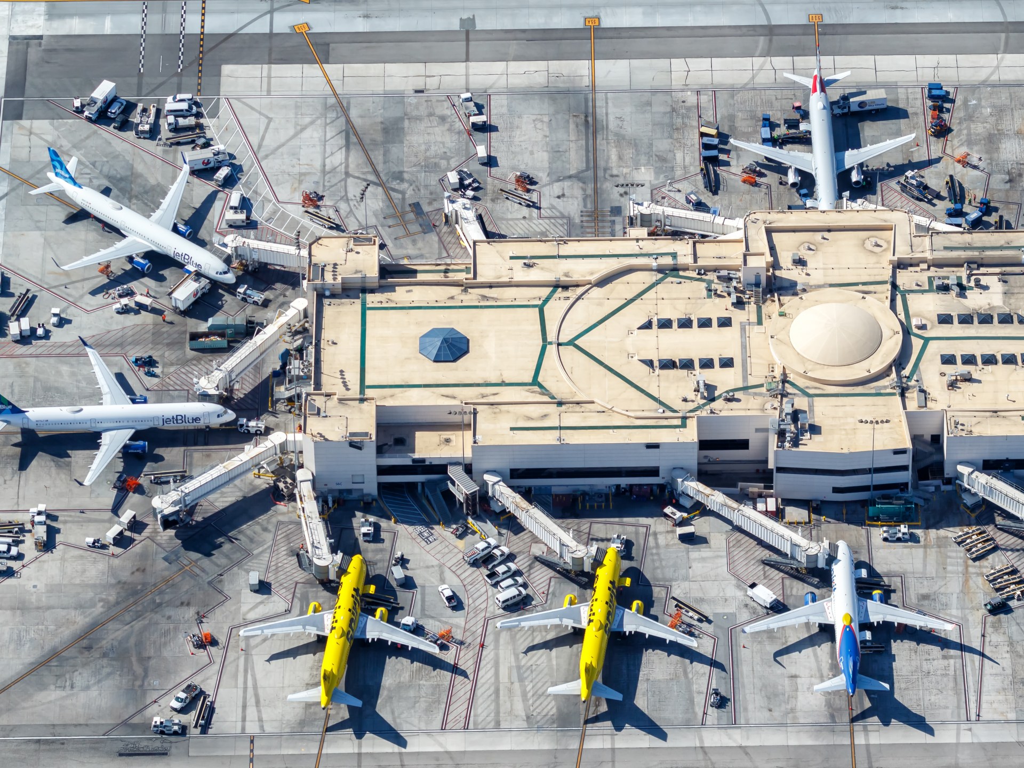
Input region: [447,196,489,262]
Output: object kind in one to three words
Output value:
jet bridge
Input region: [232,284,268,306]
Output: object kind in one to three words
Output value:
work vehicle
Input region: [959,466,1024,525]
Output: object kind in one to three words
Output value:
jet bridge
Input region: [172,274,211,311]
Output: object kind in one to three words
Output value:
truck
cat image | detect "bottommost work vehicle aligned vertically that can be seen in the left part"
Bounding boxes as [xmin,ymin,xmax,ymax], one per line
[194,692,209,730]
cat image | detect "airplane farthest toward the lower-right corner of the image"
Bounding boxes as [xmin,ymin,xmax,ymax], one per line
[741,542,956,698]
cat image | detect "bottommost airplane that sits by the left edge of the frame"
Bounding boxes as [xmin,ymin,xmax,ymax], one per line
[0,335,237,485]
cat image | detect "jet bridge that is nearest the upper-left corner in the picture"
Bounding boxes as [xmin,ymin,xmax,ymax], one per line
[210,235,309,281]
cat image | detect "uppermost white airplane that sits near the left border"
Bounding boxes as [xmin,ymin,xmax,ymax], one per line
[29,150,236,284]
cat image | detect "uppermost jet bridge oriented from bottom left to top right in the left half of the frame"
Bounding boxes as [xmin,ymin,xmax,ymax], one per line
[202,300,308,403]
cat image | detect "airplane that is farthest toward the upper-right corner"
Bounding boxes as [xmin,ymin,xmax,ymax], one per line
[729,51,916,211]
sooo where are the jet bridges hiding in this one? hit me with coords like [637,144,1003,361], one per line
[486,472,604,577]
[202,300,308,403]
[152,434,304,528]
[959,466,1024,525]
[631,203,744,239]
[296,471,352,580]
[210,235,309,281]
[447,196,489,262]
[672,466,841,572]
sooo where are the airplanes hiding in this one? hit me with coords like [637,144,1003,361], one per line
[496,549,699,704]
[729,51,916,211]
[29,150,236,284]
[741,542,956,698]
[0,335,237,485]
[237,556,441,711]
